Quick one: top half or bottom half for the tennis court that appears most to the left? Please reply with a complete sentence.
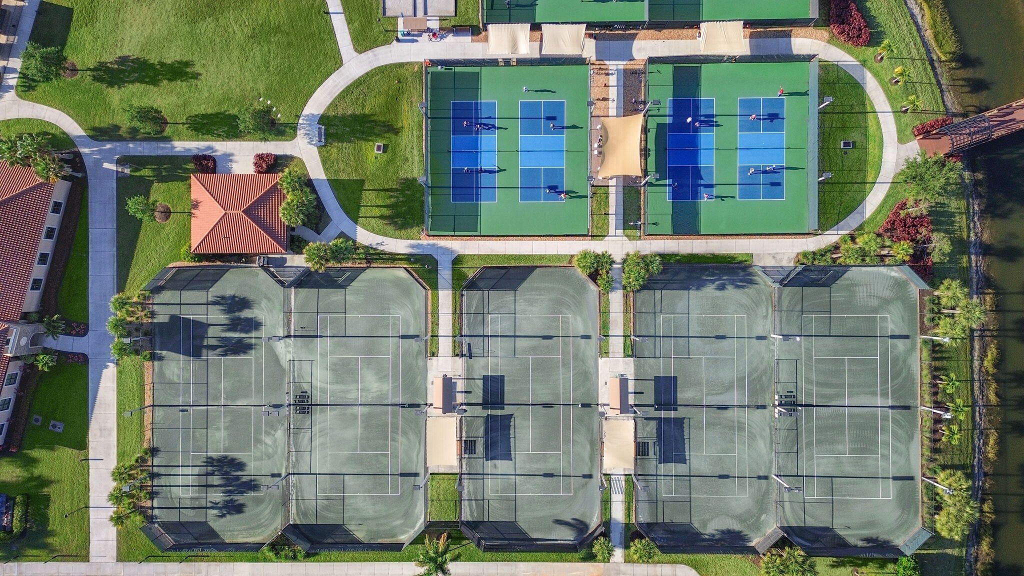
The tennis court that appears most to the left is in the bottom half of the image.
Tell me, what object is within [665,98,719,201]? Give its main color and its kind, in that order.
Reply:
blue sports court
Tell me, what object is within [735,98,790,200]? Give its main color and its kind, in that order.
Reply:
blue sports court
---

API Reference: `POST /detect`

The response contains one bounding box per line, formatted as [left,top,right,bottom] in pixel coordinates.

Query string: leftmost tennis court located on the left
[152,267,289,544]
